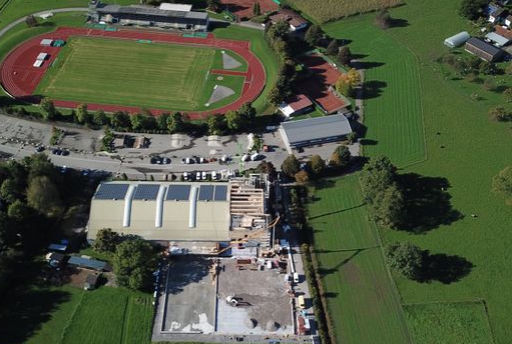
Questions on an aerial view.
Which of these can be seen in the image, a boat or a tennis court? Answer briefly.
tennis court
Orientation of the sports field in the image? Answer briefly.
horizontally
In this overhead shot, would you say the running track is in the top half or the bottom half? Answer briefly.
top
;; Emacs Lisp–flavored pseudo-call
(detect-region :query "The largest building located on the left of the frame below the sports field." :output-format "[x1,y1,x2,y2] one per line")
[88,180,228,249]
